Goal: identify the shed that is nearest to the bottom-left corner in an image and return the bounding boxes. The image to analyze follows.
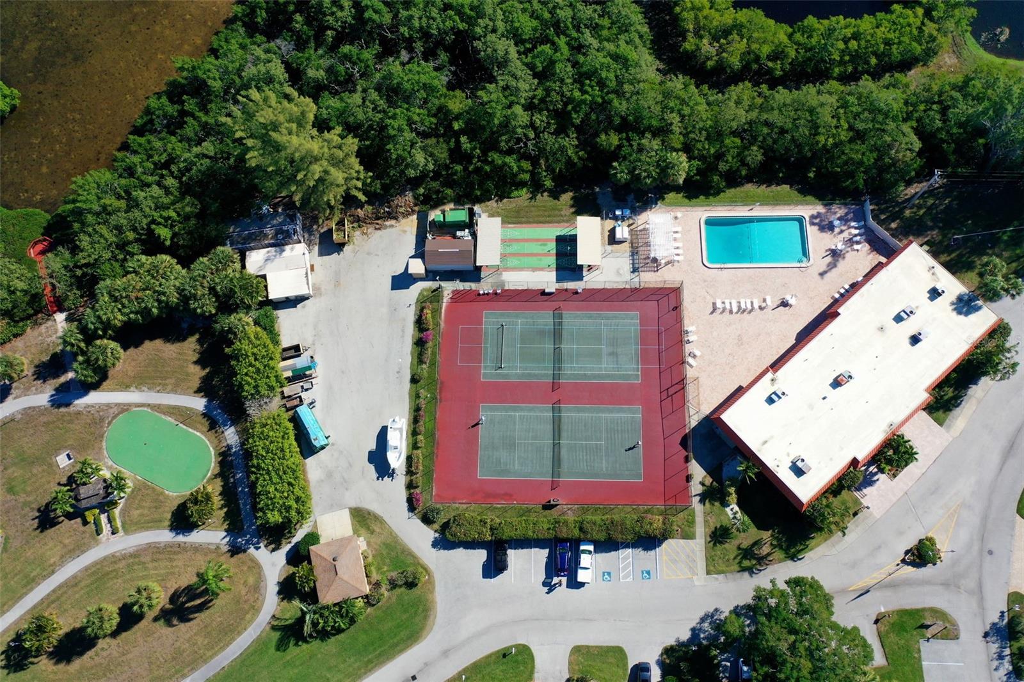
[60,478,104,515]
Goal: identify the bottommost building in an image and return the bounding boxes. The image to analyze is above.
[310,536,367,604]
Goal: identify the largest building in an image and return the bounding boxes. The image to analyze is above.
[708,242,1000,513]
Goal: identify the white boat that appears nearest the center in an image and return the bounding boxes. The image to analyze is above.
[386,412,404,473]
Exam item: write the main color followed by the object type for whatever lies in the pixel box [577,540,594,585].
white vehicle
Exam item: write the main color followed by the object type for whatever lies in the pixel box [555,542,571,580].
blue car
